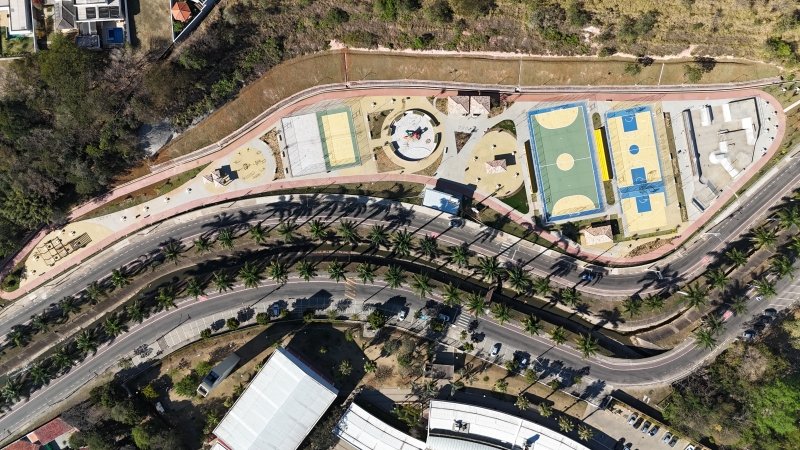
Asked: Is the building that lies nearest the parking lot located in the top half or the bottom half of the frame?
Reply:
bottom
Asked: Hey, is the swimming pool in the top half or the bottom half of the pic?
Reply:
top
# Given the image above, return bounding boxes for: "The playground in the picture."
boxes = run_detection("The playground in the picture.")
[390,107,440,159]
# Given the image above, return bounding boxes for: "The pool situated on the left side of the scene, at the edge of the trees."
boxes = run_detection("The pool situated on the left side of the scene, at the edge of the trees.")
[102,27,125,47]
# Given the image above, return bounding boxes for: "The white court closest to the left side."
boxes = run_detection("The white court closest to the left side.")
[282,112,327,177]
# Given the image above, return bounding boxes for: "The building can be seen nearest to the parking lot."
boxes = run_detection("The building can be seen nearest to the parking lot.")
[427,398,588,450]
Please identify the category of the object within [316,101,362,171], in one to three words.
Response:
sports court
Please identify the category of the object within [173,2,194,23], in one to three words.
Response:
gazebo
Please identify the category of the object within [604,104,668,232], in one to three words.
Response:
sports court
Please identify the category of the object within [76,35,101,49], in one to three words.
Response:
house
